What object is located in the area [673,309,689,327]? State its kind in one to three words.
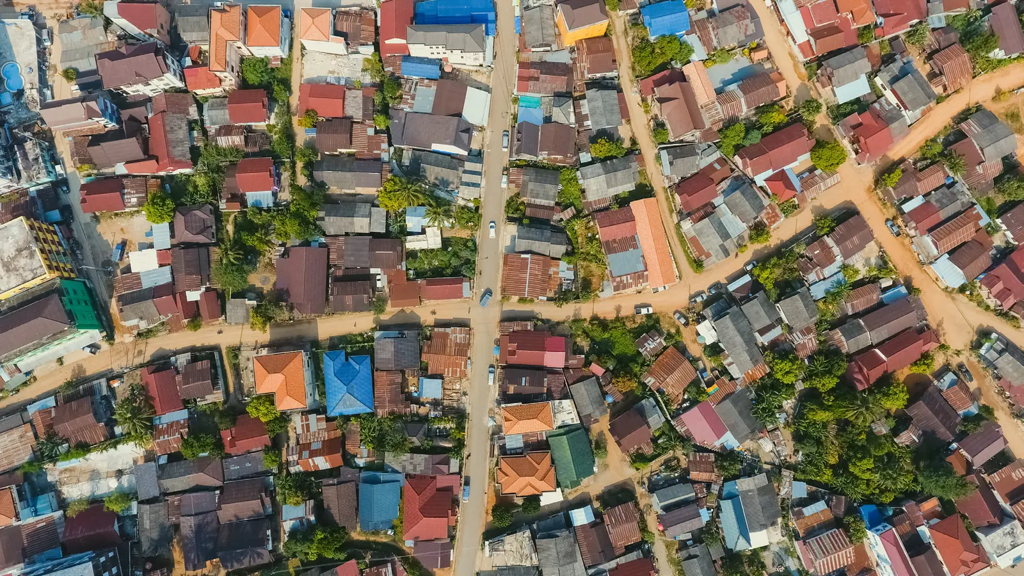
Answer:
car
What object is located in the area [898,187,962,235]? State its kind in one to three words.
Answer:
house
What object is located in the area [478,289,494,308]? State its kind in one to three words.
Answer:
vehicle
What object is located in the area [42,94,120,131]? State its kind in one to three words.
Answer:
building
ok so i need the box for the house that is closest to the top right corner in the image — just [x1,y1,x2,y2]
[981,1,1024,60]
